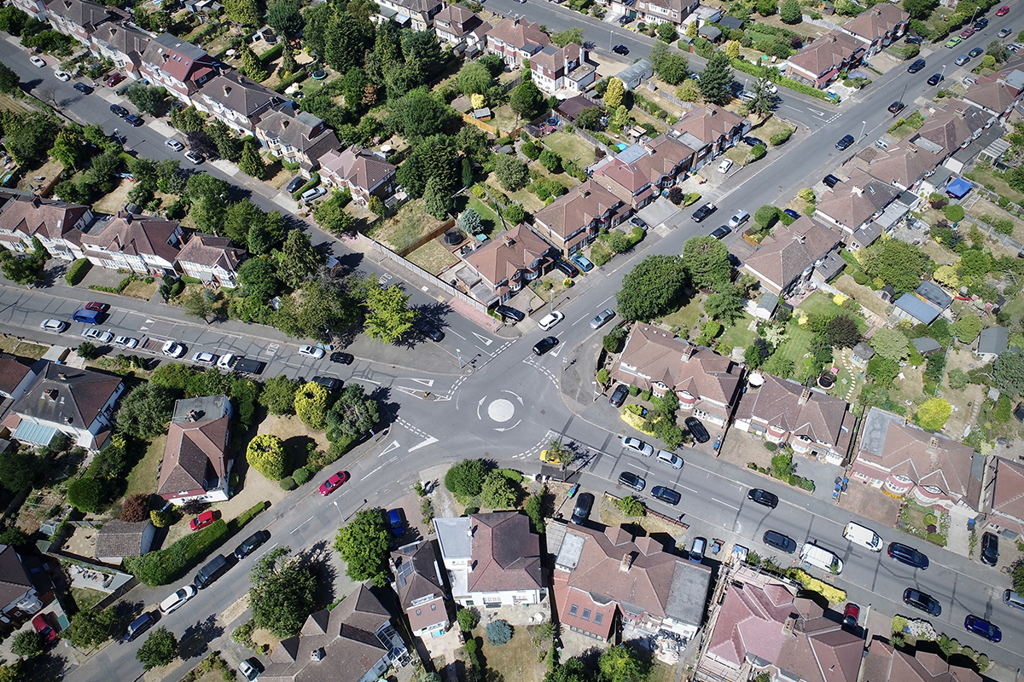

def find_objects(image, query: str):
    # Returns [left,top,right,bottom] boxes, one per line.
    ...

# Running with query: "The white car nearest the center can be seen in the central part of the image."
[537,310,565,331]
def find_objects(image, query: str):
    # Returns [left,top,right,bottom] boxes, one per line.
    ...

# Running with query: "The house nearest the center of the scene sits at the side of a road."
[455,222,554,313]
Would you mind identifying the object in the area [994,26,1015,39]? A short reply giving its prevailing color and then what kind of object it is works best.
gray vehicle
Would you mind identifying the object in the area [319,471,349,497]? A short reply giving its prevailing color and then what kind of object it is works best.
red car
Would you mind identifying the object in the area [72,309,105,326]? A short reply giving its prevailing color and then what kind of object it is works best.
blue vehicle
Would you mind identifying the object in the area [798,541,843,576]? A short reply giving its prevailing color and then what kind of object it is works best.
white van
